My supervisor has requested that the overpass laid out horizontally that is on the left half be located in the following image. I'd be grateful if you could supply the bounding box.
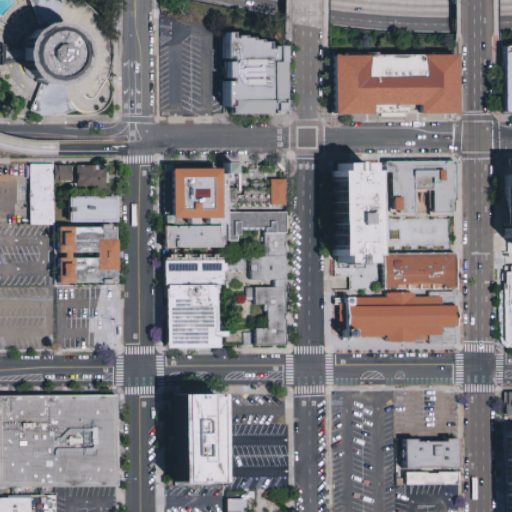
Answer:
[0,132,60,156]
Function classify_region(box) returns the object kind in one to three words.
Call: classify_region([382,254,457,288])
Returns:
building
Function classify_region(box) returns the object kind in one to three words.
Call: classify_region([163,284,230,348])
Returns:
building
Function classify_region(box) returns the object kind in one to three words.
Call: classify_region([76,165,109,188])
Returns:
house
